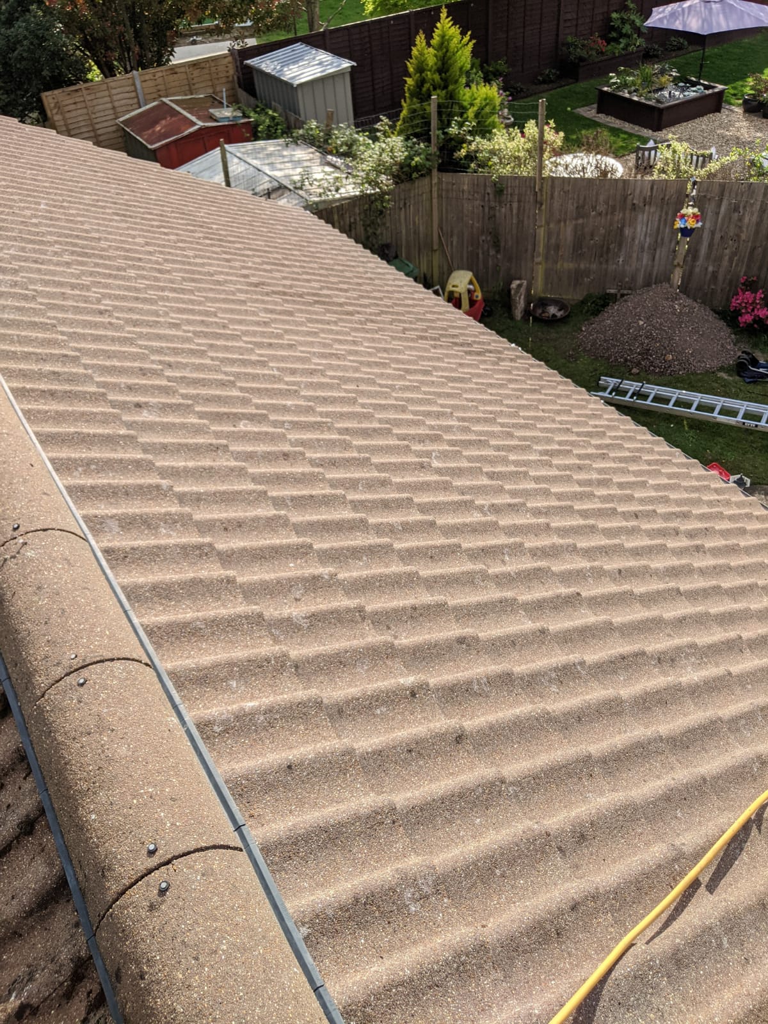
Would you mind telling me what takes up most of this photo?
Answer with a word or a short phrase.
buildings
